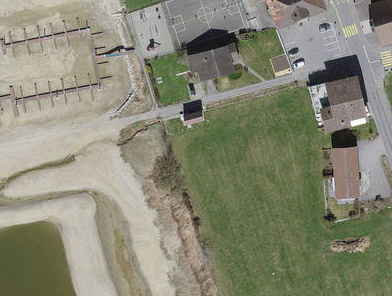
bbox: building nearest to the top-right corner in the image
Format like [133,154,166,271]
[368,0,392,48]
